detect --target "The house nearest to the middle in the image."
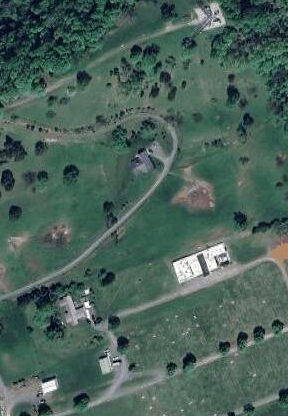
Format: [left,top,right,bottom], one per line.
[132,149,155,174]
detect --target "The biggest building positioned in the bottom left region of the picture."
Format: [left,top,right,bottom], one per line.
[58,297,89,325]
